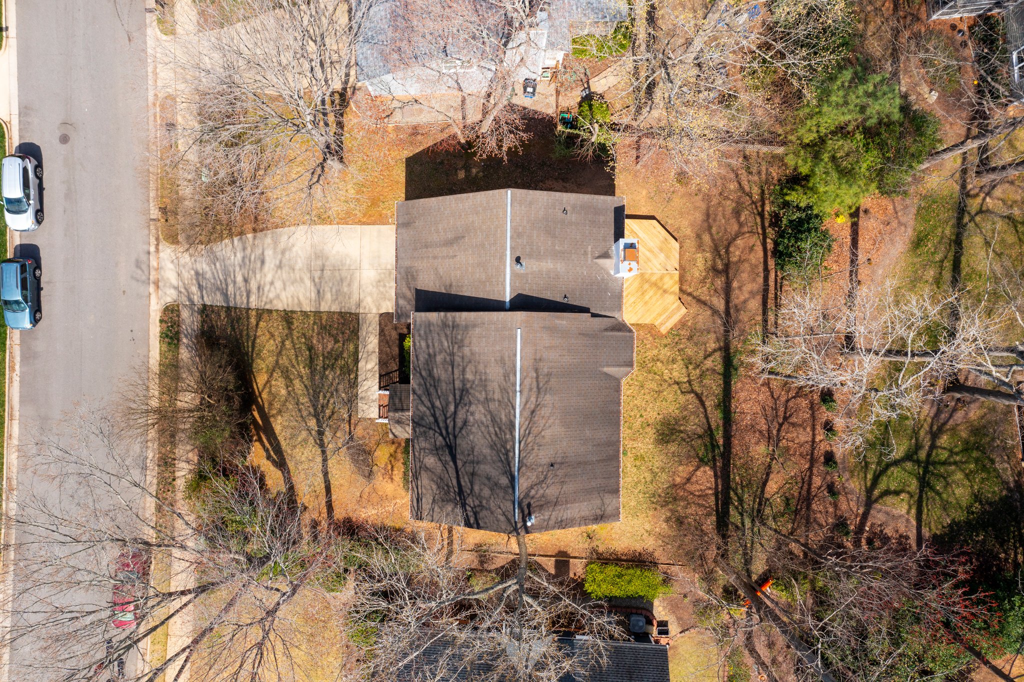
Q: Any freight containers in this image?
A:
No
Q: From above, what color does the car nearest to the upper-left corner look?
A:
white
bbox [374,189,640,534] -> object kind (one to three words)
house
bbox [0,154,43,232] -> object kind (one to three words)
car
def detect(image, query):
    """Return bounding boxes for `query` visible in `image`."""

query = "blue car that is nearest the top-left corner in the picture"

[0,258,42,331]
